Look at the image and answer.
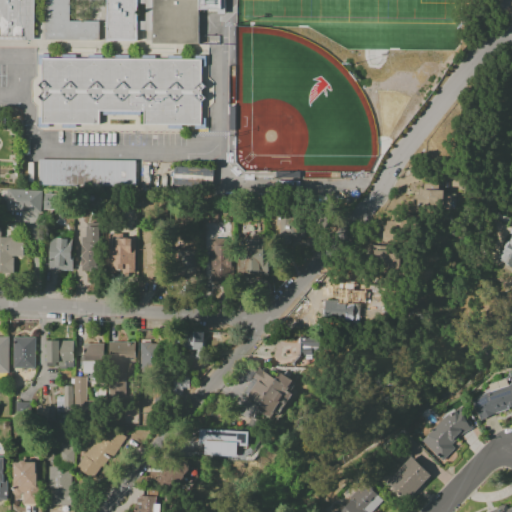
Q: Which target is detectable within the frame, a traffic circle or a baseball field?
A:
baseball field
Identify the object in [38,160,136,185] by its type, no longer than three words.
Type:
building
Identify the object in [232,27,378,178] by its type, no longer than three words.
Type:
baseball field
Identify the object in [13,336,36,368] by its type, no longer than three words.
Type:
house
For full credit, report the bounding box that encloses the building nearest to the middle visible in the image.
[238,248,264,274]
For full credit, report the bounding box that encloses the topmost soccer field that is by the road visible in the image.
[238,0,473,50]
